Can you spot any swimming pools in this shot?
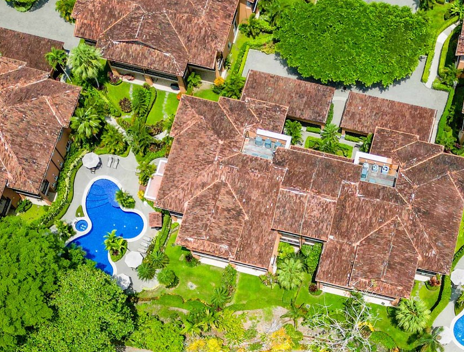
Yes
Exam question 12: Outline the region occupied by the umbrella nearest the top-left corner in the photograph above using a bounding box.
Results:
[82,154,99,170]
